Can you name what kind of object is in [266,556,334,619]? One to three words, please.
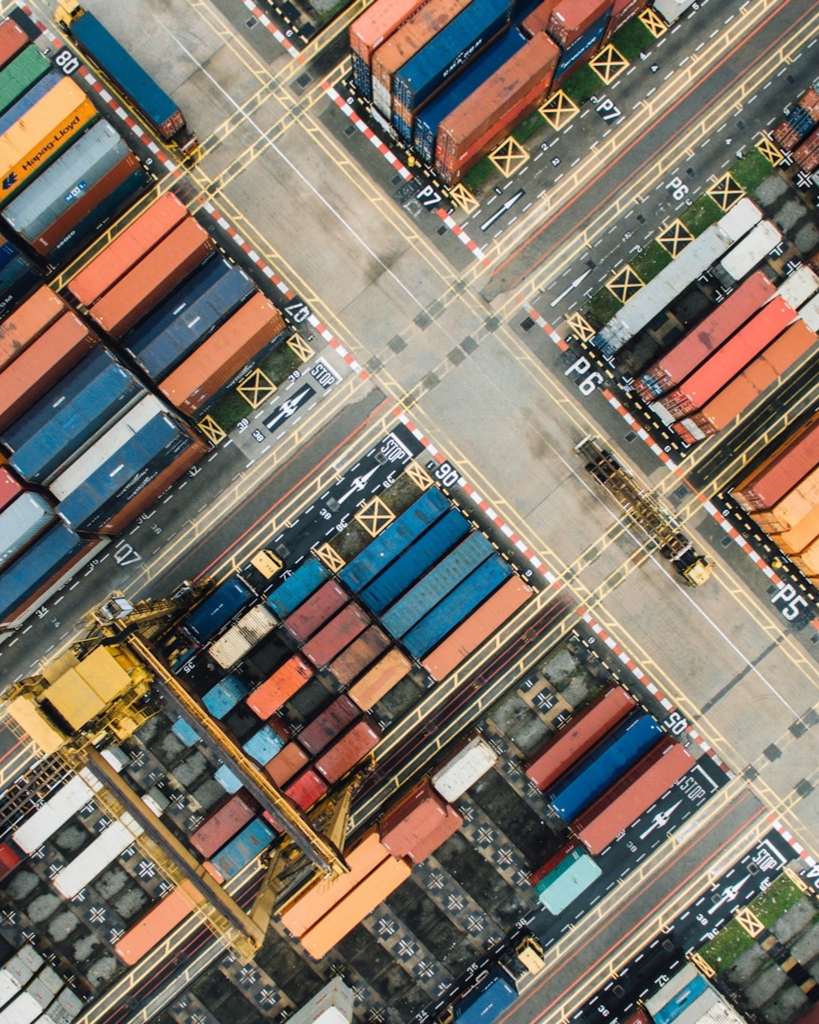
shipping container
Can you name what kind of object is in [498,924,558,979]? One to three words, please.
truck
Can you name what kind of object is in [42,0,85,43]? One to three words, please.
truck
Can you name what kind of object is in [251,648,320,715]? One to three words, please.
shipping container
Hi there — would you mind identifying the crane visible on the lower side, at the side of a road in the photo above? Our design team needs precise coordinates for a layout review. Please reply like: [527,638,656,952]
[2,584,373,973]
